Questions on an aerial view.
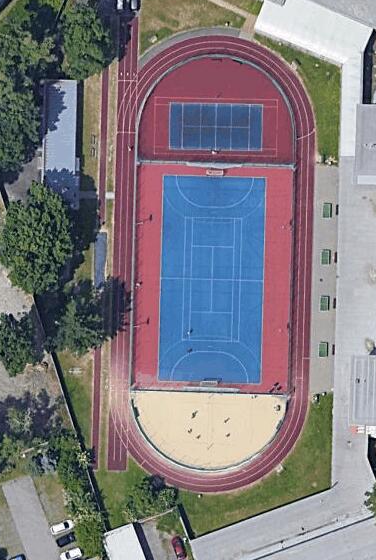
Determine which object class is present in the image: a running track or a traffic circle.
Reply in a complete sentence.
The image shows a running track.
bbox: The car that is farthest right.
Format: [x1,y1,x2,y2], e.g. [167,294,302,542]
[172,536,187,559]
